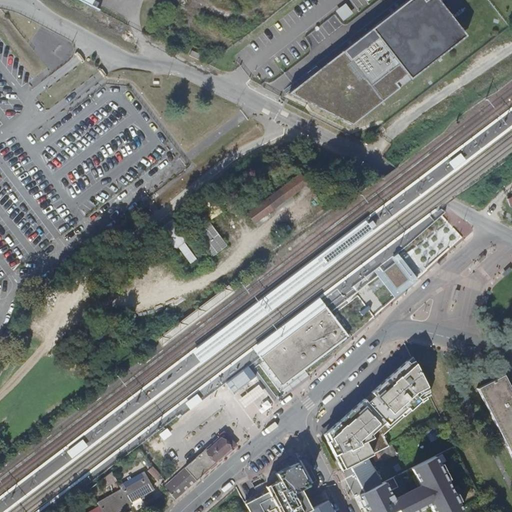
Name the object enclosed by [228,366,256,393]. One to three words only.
shed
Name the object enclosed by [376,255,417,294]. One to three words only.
building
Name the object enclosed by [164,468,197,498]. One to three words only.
house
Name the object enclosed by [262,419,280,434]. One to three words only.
vehicle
